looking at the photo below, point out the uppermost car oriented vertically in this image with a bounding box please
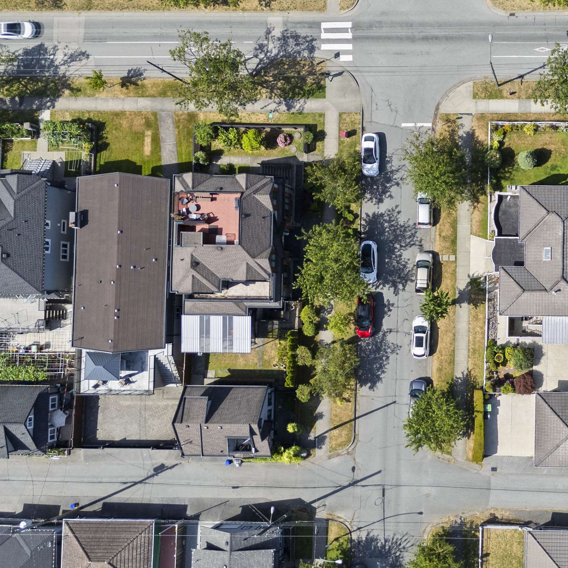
[360,133,381,178]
